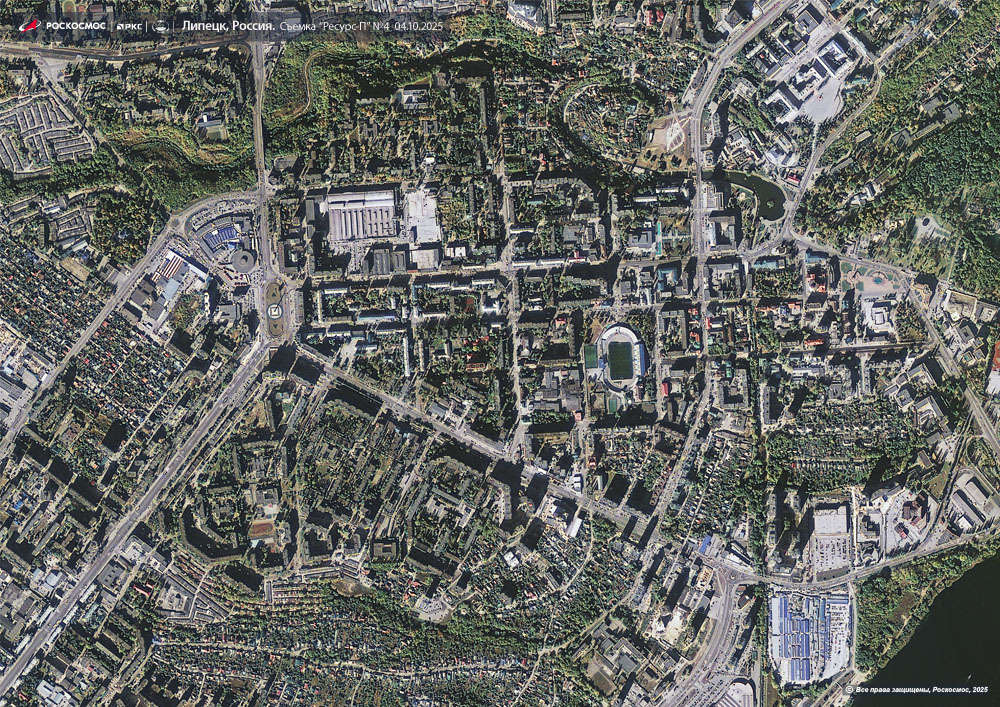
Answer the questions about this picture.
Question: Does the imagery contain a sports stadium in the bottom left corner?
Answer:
No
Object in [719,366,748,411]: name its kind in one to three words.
building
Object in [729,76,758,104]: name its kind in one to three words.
building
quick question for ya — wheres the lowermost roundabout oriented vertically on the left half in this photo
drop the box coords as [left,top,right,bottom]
[267,278,284,336]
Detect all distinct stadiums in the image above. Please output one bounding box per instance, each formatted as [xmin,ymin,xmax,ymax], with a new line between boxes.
[602,325,646,392]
